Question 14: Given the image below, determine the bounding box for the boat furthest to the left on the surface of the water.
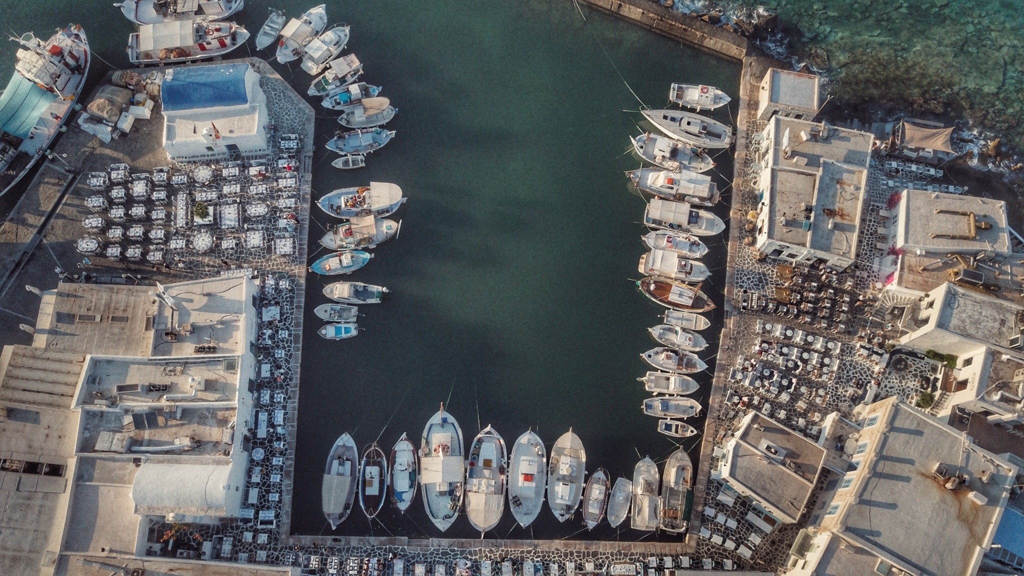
[0,16,90,203]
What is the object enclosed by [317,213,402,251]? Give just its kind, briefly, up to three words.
boat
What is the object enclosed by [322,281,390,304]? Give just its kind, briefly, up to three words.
boat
